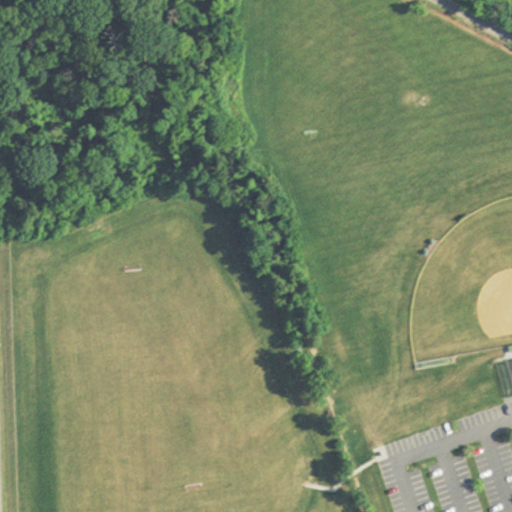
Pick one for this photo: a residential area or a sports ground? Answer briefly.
sports ground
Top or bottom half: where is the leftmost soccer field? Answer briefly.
bottom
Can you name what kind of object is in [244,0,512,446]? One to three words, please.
sports field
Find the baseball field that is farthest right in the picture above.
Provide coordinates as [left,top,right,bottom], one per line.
[410,198,512,363]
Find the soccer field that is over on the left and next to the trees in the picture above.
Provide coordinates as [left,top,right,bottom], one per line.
[52,197,322,512]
